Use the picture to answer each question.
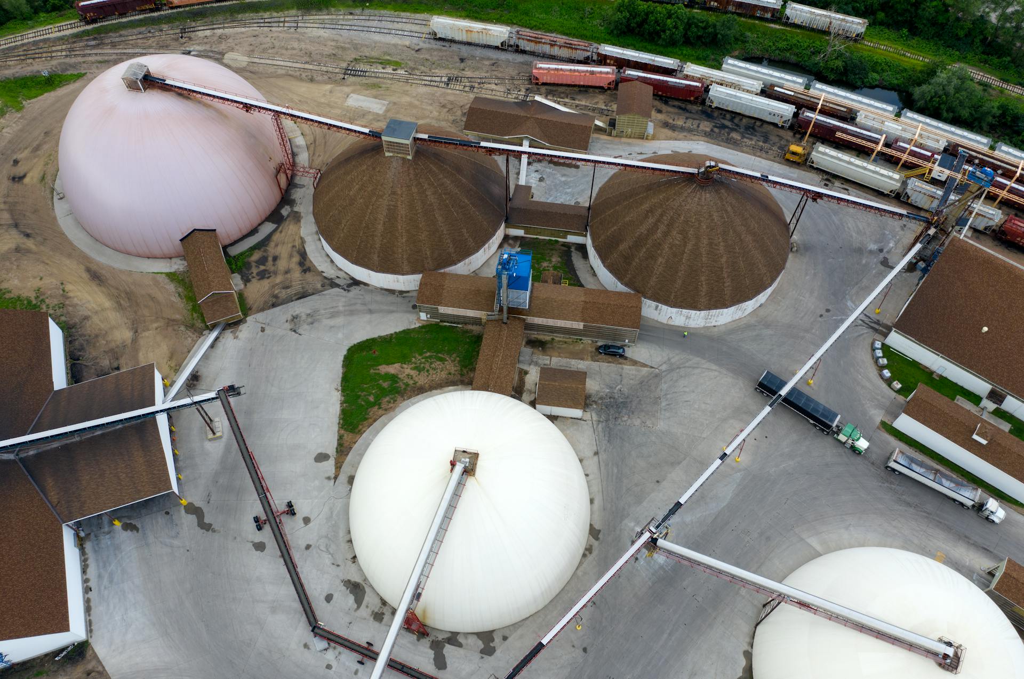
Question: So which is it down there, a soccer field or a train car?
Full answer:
I can see a train car in this picture.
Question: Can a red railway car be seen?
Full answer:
Yes, a red railway car appears in the view.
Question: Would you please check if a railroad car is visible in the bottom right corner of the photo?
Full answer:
No, I see no railroad car in the bottom right corner of the photo.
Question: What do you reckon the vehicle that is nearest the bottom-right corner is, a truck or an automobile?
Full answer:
The vehicle that is nearest the bottom-right corner is a truck.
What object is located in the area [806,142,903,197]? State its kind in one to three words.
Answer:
rail car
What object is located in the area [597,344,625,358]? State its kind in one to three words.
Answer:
car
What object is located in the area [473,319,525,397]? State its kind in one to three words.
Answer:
building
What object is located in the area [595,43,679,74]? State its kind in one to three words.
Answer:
rail car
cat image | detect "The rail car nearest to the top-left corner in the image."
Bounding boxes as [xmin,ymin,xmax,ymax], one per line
[77,0,165,21]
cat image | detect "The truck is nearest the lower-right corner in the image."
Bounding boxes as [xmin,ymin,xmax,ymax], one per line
[885,448,1005,525]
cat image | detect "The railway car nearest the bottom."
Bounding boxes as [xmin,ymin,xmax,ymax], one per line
[990,216,1024,251]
